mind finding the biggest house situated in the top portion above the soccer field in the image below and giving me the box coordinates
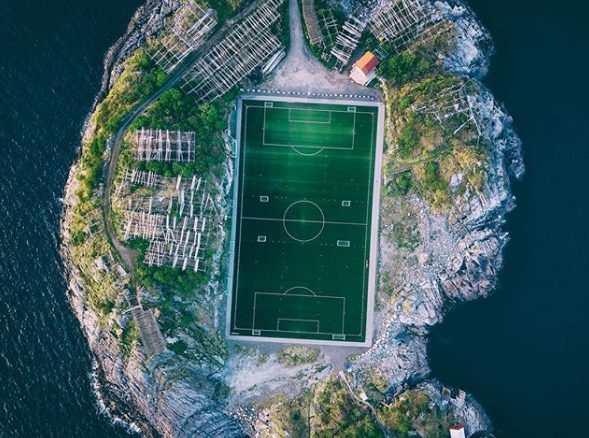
[349,53,378,87]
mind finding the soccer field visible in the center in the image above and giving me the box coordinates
[225,95,383,347]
